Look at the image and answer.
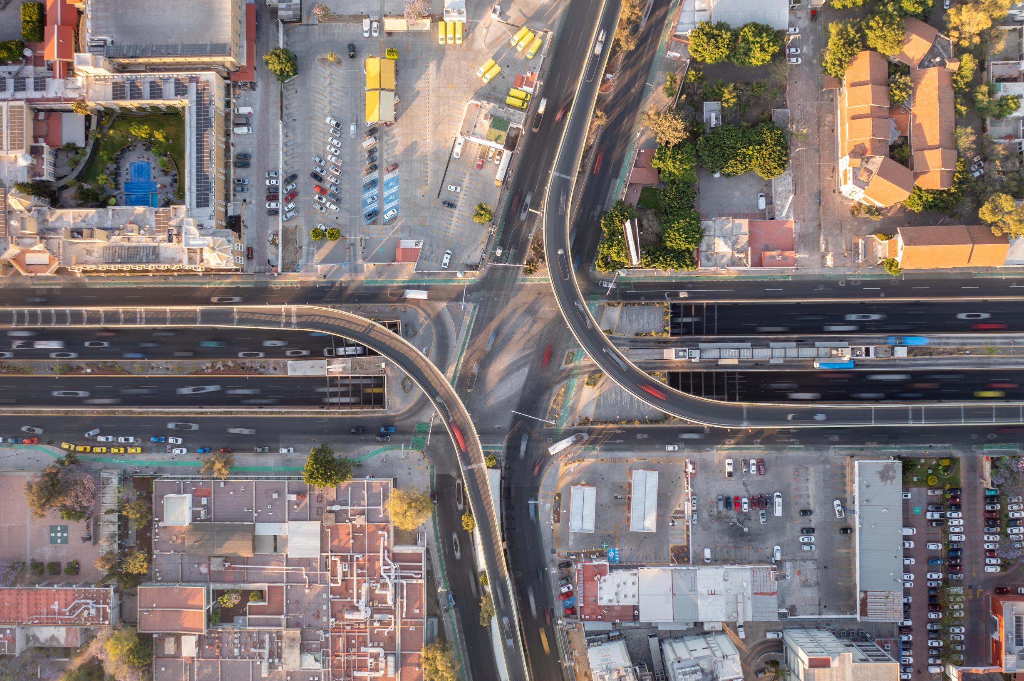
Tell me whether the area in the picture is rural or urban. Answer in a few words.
urban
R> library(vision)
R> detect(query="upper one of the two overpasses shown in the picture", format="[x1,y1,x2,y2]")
[544,0,1024,428]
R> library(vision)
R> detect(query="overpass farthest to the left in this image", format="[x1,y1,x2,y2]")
[0,306,528,681]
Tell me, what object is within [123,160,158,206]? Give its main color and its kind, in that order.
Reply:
blue swimming pool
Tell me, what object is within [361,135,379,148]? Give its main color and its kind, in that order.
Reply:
white vehicle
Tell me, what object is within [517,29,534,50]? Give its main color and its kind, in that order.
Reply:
yellow vehicle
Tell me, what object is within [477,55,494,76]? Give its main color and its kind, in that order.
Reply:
yellow vehicle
